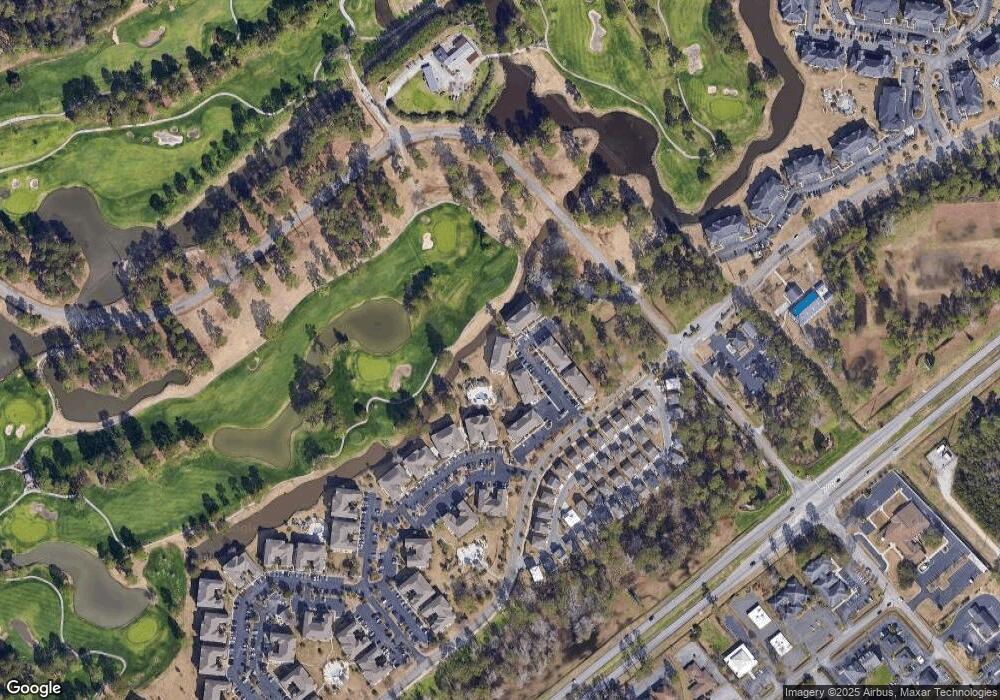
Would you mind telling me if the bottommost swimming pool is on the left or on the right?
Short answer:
left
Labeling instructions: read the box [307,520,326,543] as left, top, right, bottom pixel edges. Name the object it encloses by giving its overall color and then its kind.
white swimming pool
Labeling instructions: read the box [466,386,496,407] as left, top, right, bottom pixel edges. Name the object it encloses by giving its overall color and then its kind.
white swimming pool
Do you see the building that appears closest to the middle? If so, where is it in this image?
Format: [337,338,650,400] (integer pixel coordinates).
[490,337,512,377]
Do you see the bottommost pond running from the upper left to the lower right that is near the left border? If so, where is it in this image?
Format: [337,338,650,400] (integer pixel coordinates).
[0,541,150,628]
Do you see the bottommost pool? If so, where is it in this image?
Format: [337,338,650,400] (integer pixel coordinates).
[323,661,349,685]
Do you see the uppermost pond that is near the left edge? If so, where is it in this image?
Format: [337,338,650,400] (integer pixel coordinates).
[37,186,226,306]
